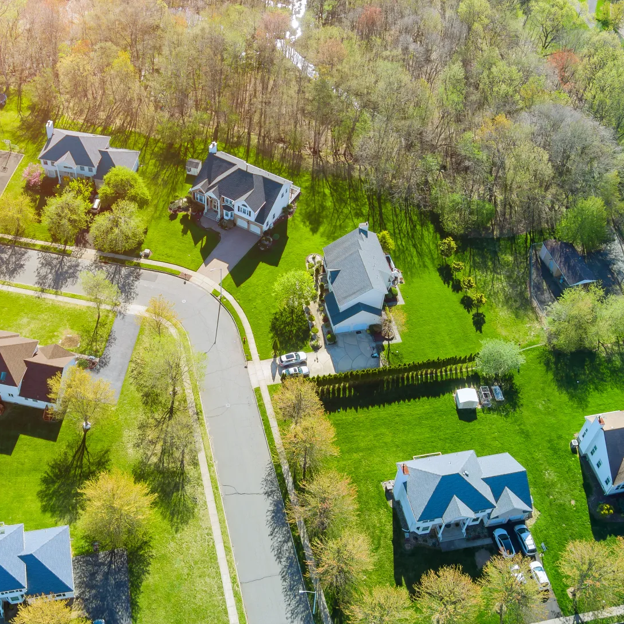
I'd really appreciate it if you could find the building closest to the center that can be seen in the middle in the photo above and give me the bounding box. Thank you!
[324,221,396,335]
